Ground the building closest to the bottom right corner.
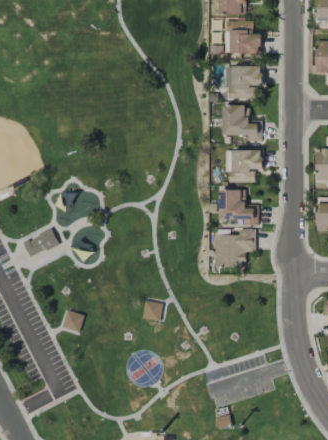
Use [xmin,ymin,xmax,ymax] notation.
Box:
[216,407,234,428]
